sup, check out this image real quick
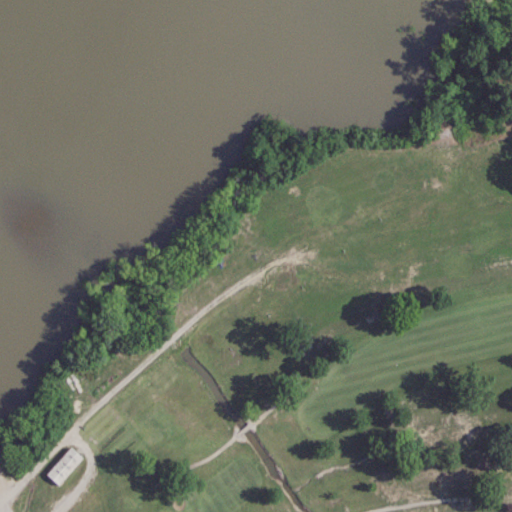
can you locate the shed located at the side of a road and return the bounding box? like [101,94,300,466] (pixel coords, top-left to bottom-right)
[47,448,84,486]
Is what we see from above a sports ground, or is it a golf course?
golf course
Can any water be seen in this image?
Yes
